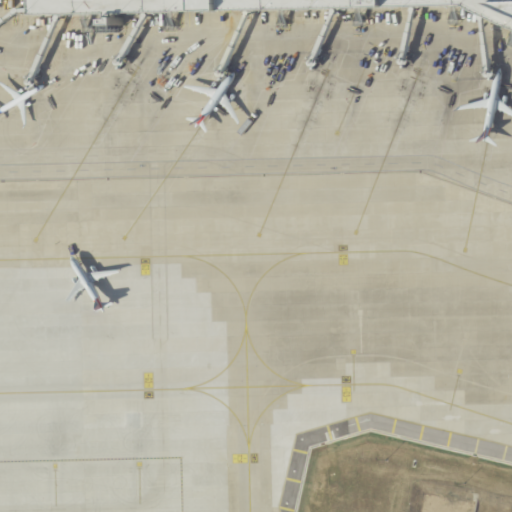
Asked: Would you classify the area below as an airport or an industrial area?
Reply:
airport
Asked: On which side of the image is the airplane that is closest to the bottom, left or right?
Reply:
left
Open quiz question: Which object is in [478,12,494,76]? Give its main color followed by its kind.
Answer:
white jet bridge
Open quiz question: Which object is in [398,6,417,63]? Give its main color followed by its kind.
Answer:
white jet bridge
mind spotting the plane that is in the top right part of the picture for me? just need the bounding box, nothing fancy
[454,70,512,144]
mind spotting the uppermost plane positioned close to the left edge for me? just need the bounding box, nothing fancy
[0,78,44,126]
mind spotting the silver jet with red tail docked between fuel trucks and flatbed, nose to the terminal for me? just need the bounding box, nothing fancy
[186,74,236,134]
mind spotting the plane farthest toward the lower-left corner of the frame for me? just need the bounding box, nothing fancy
[65,256,114,318]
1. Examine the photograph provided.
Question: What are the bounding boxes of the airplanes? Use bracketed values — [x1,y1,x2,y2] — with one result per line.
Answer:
[454,70,512,144]
[186,74,236,134]
[65,256,114,318]
[0,78,44,126]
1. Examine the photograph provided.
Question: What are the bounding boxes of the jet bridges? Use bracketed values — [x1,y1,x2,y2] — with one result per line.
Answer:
[308,8,338,64]
[398,6,417,63]
[220,10,252,74]
[25,14,62,83]
[478,12,494,76]
[115,14,150,64]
